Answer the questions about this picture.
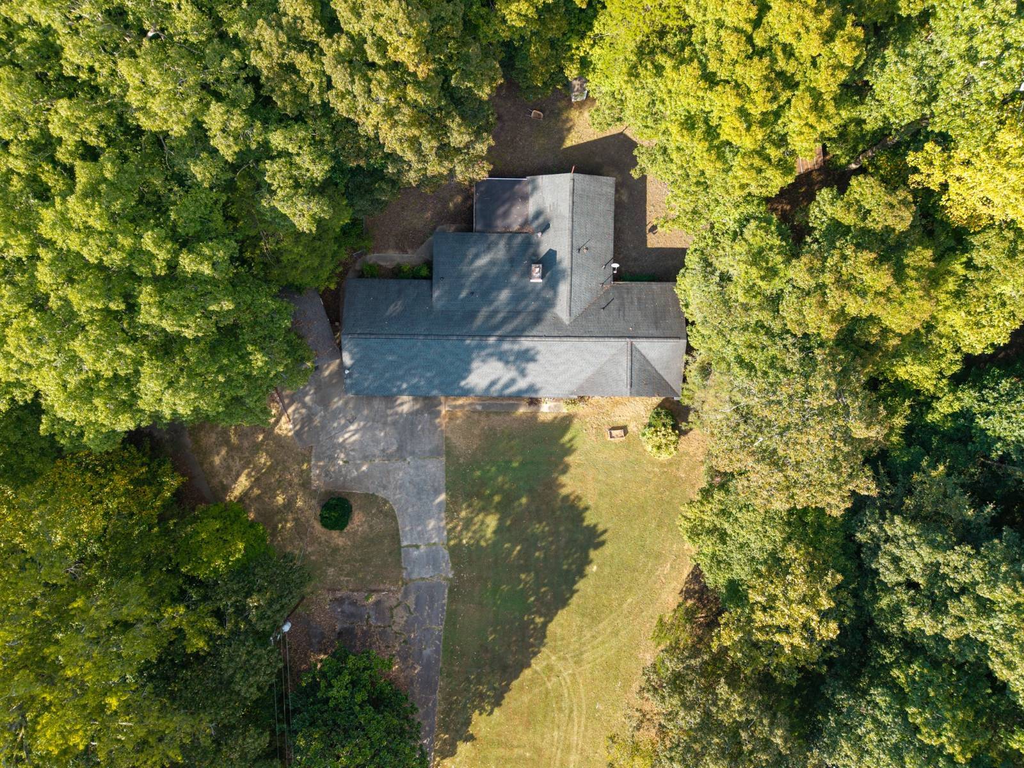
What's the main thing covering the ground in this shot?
trees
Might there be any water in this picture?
No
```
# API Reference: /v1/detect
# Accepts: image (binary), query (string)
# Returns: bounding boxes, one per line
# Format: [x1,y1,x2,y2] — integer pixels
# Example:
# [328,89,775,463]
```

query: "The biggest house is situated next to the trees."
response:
[338,172,690,402]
